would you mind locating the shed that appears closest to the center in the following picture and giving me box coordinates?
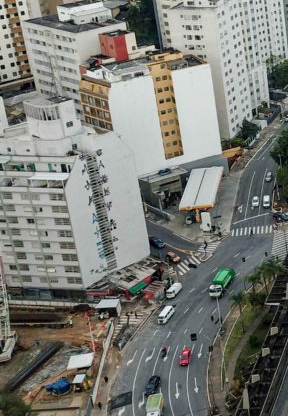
[139,167,191,218]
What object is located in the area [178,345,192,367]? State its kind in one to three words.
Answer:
car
